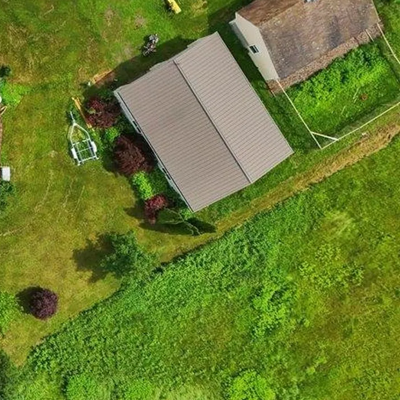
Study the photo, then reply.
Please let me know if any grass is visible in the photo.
Yes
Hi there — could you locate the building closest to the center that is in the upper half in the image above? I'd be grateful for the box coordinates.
[113,30,293,214]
